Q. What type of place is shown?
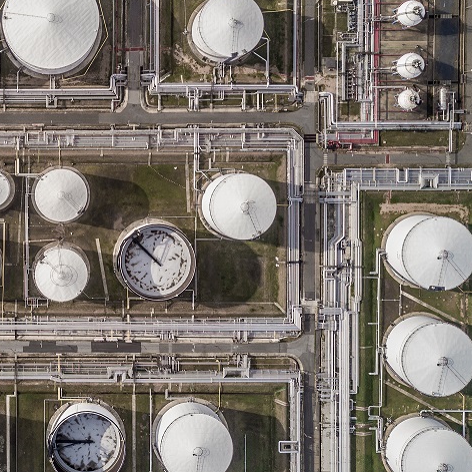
industrial area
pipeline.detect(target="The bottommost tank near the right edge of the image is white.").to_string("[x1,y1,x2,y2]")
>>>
[372,412,472,472]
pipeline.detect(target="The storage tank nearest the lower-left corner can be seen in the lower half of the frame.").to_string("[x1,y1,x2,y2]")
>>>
[45,389,127,472]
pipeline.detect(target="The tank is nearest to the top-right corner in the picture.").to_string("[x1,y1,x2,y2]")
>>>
[380,0,427,32]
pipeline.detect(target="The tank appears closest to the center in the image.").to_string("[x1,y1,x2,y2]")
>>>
[194,156,281,244]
